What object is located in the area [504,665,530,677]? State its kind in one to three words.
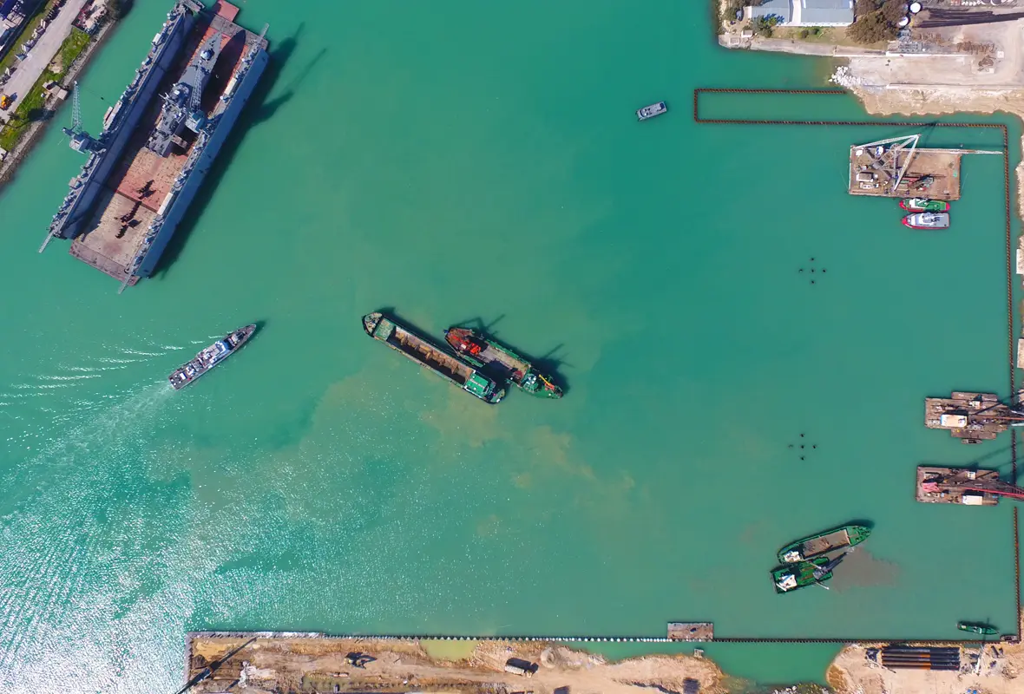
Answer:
vehicle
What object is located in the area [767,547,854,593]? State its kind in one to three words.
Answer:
ship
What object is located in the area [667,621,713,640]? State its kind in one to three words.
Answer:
pier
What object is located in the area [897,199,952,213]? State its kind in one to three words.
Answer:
boat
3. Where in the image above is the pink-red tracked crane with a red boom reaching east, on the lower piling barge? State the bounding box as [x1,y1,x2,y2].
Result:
[921,470,1024,501]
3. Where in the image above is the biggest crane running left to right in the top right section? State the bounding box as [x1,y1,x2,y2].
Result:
[854,134,1003,190]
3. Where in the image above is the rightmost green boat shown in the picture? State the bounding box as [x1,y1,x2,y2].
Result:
[956,621,999,635]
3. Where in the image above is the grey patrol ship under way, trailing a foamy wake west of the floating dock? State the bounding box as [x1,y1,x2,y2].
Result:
[169,325,259,390]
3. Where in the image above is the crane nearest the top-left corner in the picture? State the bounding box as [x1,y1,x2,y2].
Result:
[68,81,104,162]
